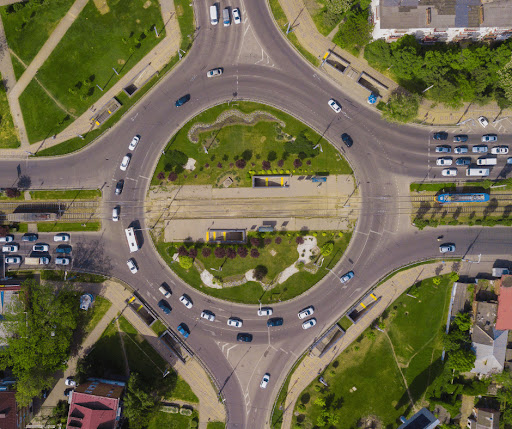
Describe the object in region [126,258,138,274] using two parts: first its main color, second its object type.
white vehicle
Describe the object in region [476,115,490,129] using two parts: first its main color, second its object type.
white car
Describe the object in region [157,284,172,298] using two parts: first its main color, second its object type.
white car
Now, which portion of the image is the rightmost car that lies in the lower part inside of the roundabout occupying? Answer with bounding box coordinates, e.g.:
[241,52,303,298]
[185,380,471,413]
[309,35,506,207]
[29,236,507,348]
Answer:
[339,270,354,284]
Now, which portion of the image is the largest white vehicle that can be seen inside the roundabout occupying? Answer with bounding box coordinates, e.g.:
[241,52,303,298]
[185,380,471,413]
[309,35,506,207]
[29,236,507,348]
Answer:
[124,226,140,254]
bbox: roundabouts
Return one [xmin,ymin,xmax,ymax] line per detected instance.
[113,66,395,340]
